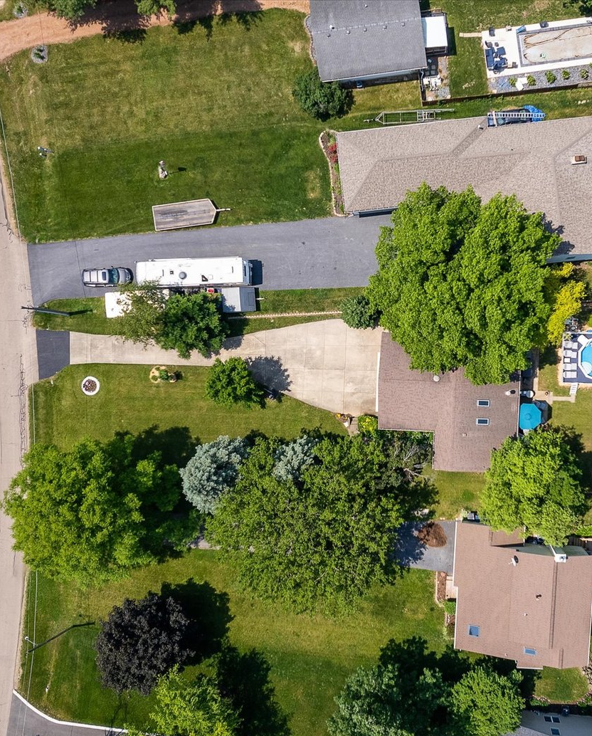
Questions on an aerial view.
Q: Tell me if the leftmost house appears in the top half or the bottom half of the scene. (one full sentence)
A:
You can find the leftmost house in the top half.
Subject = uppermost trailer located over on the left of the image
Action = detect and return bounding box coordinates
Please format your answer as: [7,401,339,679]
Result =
[148,197,228,229]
